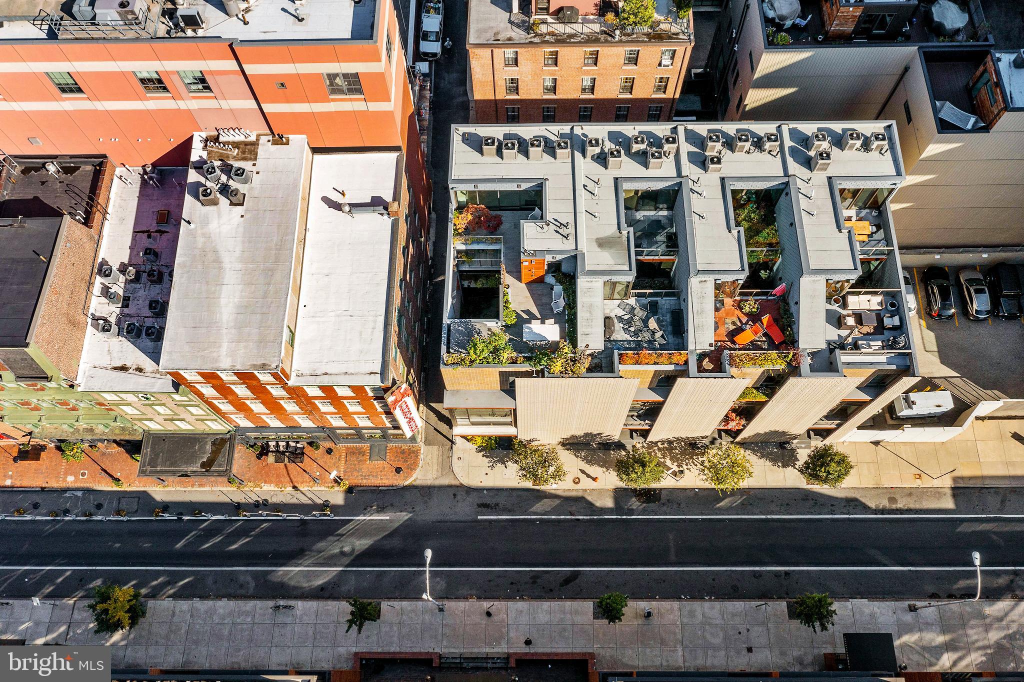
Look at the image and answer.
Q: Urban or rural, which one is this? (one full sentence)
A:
This place is urban.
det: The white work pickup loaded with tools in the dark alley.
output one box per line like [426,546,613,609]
[417,0,445,62]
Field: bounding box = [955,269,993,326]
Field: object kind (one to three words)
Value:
car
